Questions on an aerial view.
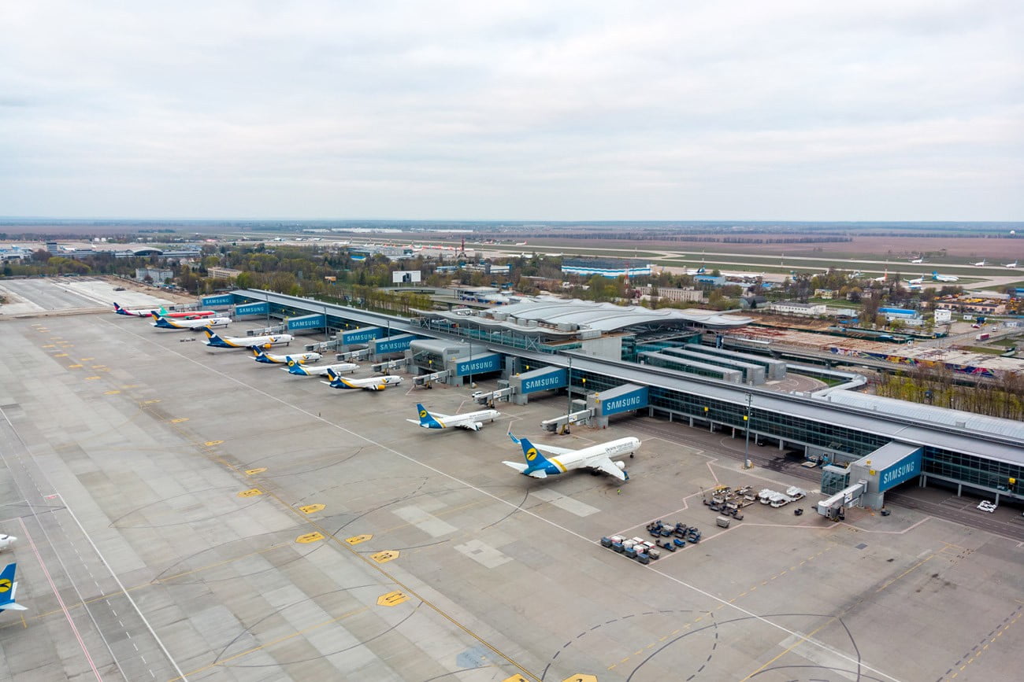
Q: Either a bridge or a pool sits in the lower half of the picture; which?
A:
bridge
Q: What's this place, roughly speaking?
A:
airport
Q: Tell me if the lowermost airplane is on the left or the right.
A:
left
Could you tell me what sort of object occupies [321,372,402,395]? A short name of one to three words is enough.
airplane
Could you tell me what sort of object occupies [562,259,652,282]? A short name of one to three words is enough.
hangar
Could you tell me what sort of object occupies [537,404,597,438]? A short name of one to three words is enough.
jet bridge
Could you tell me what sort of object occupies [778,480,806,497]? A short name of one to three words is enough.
vehicle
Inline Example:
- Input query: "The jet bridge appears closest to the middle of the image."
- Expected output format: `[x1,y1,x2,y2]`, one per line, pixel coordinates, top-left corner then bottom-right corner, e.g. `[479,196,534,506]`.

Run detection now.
[469,384,517,410]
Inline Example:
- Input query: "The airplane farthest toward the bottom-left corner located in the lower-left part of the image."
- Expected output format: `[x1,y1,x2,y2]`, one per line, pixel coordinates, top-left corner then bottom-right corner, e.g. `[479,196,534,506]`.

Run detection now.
[0,564,24,615]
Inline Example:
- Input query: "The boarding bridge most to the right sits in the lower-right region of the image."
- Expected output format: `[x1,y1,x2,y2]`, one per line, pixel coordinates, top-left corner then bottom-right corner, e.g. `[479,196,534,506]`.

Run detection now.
[818,475,871,523]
